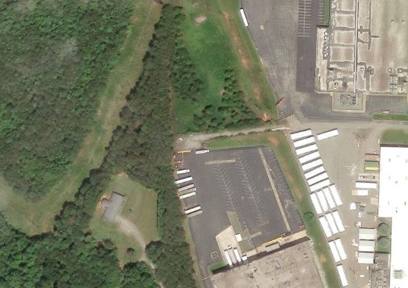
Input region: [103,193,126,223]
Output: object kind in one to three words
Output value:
house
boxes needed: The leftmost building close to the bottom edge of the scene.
[212,241,327,288]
